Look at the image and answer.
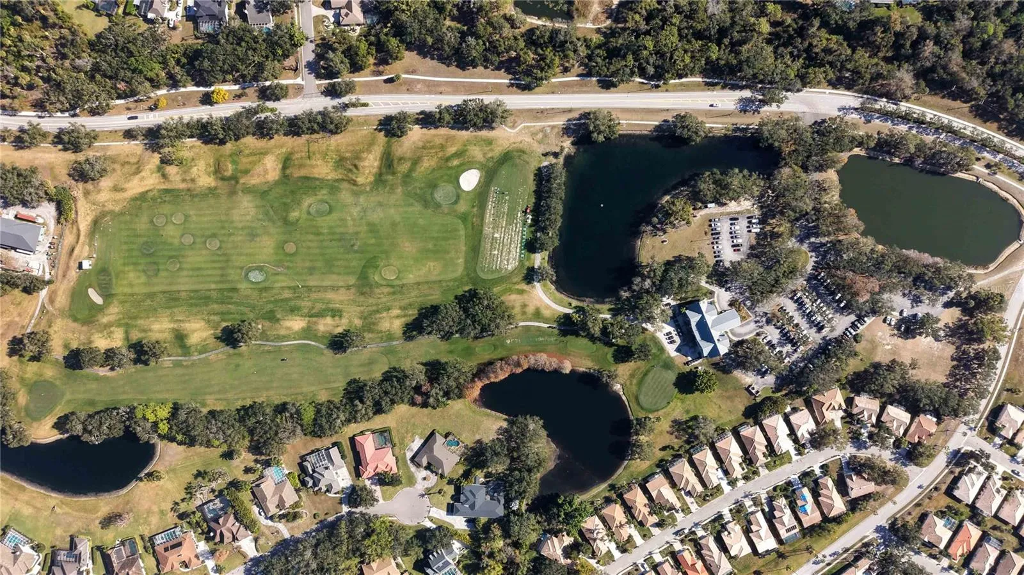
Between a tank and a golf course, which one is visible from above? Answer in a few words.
golf course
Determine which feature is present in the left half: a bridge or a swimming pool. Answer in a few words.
swimming pool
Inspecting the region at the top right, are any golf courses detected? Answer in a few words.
No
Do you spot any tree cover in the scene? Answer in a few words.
Yes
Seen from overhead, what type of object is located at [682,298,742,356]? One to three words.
building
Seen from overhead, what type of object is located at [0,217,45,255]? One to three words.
building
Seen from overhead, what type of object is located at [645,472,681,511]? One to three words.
house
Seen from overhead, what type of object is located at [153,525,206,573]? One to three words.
house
